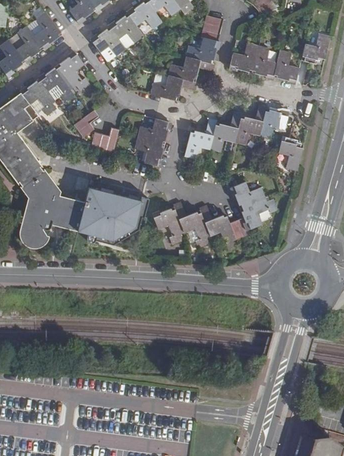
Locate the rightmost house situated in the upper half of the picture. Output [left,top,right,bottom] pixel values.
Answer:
[302,34,330,64]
